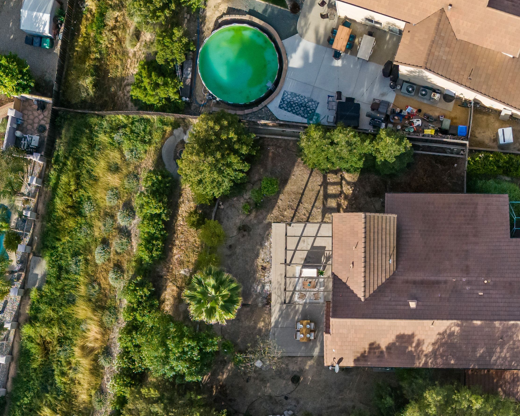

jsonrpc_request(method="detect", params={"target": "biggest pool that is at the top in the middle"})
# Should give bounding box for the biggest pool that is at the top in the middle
[197,22,283,108]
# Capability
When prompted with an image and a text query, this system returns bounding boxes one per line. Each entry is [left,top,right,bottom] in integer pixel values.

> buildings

[334,0,520,114]
[323,193,520,403]
[20,0,61,39]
